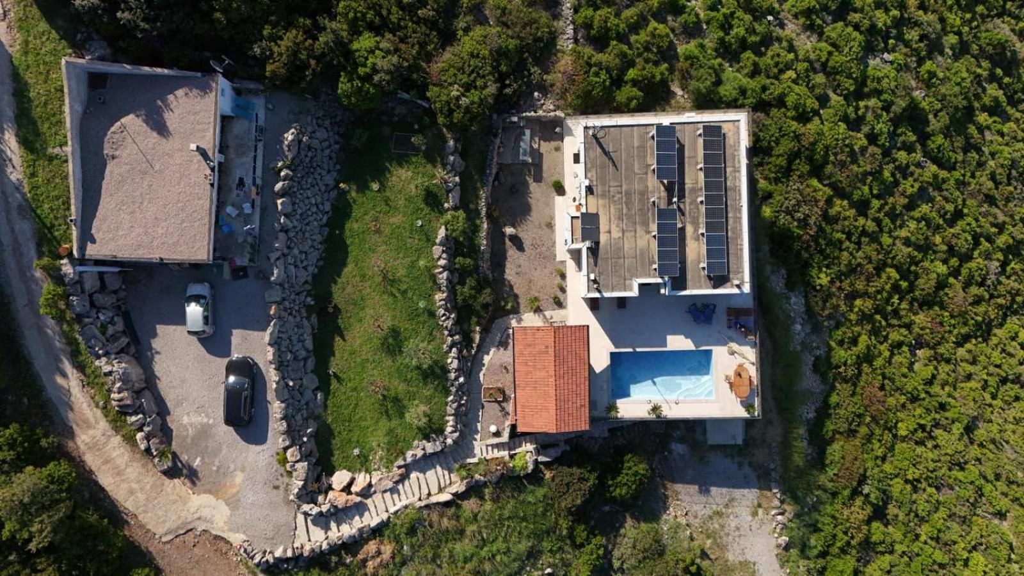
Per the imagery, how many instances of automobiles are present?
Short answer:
2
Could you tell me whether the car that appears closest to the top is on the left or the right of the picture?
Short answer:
left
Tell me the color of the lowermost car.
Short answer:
black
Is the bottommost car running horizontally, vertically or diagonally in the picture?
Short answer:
vertically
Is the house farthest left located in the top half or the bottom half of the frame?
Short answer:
top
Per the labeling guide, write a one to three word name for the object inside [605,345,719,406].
swimming pool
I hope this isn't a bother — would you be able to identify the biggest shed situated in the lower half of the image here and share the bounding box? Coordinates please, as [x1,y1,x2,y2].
[512,325,592,434]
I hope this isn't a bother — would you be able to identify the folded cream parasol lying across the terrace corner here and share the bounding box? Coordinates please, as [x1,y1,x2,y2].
[719,331,755,364]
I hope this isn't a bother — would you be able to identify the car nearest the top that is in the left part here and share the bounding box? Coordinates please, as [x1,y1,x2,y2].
[181,282,216,338]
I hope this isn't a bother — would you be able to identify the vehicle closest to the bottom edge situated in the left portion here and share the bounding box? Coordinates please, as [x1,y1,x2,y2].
[220,356,256,429]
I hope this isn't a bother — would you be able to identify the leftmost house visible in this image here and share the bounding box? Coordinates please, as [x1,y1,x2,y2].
[63,60,242,264]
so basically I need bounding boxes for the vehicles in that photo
[181,282,216,338]
[220,356,256,429]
